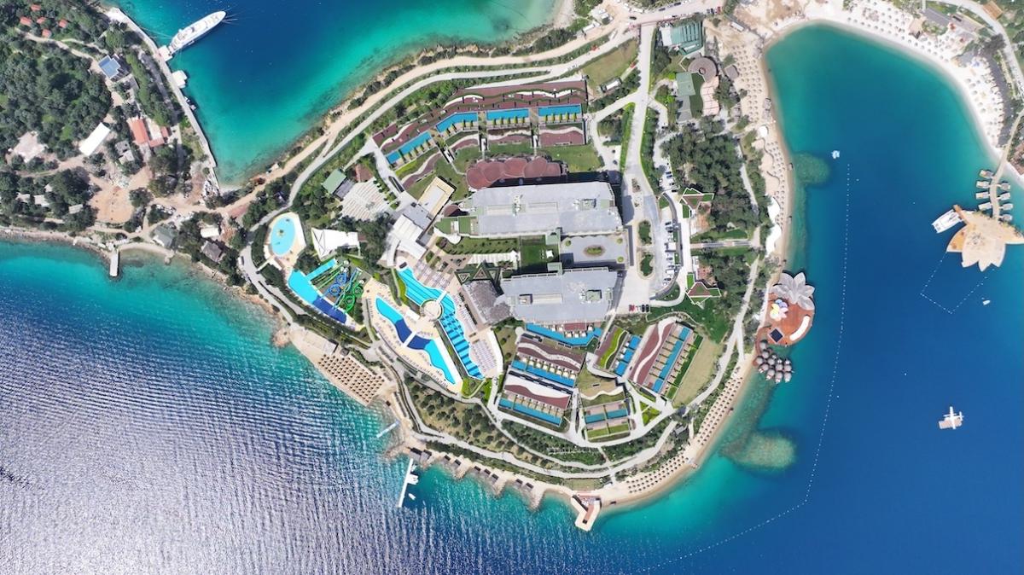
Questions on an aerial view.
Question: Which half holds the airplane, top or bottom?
bottom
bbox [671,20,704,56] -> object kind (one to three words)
greenhouse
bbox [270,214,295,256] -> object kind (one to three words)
swimming pool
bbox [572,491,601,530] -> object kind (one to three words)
pier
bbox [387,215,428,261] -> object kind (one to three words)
building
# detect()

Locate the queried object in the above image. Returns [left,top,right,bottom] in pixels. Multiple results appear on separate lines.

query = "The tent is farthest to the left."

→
[311,227,359,259]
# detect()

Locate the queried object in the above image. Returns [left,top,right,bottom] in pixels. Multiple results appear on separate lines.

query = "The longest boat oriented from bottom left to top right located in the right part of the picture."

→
[932,210,960,234]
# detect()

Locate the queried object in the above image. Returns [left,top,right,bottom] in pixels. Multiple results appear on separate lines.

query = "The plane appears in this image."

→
[945,405,968,430]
